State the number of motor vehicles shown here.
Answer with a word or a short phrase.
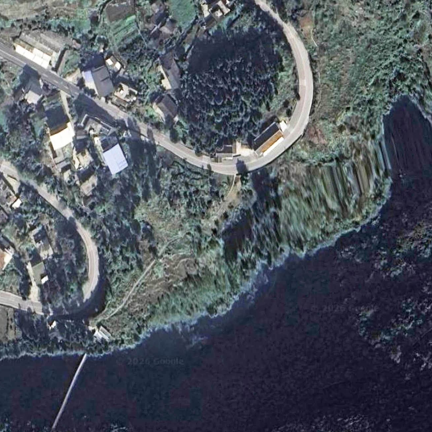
none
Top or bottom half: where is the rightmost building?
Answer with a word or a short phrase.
top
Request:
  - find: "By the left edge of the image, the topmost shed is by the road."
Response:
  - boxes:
[14,32,66,68]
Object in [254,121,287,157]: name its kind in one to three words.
building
